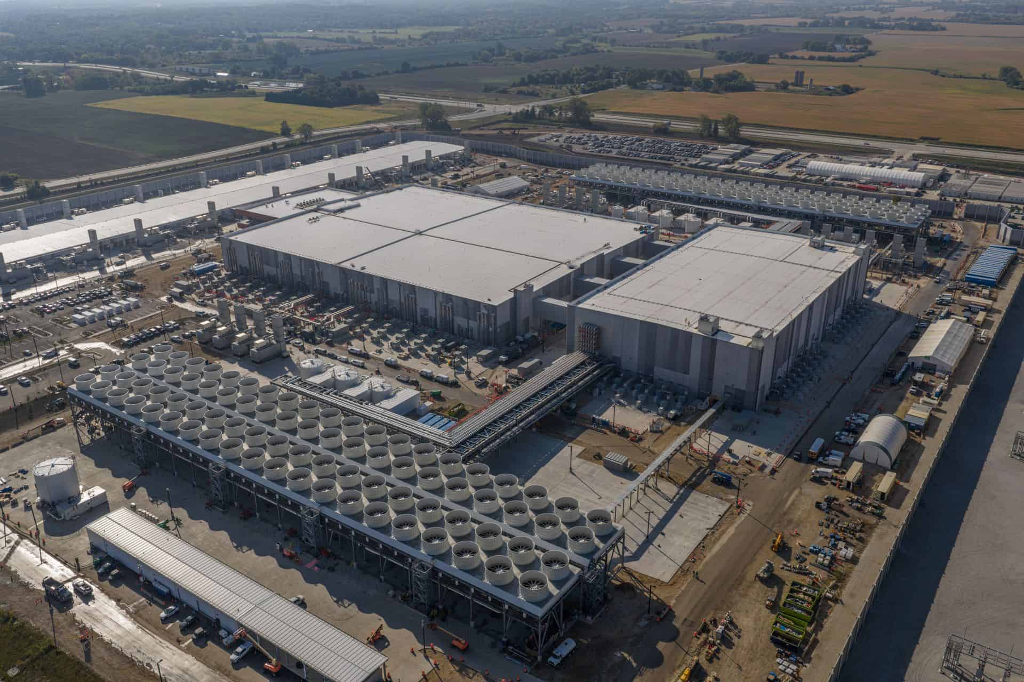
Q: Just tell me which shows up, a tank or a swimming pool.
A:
tank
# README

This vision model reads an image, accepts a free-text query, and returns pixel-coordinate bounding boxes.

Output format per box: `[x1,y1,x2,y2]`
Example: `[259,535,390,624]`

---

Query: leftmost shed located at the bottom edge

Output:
[83,507,391,682]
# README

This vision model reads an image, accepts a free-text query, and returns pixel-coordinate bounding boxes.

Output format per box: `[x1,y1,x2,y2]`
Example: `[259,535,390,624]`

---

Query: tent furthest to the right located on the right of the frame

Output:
[908,318,972,375]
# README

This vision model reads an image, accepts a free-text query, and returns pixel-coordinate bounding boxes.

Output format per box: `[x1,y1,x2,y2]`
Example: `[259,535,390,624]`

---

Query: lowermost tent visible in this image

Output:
[850,402,916,472]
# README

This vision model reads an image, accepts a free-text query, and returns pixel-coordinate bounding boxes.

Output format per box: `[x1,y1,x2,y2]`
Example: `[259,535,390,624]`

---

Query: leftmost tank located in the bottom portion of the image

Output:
[37,449,92,512]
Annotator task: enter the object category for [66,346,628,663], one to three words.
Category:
cooling tower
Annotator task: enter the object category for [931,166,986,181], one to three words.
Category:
building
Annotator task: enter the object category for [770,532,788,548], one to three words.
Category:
work vehicle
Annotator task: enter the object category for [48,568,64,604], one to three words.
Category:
vehicle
